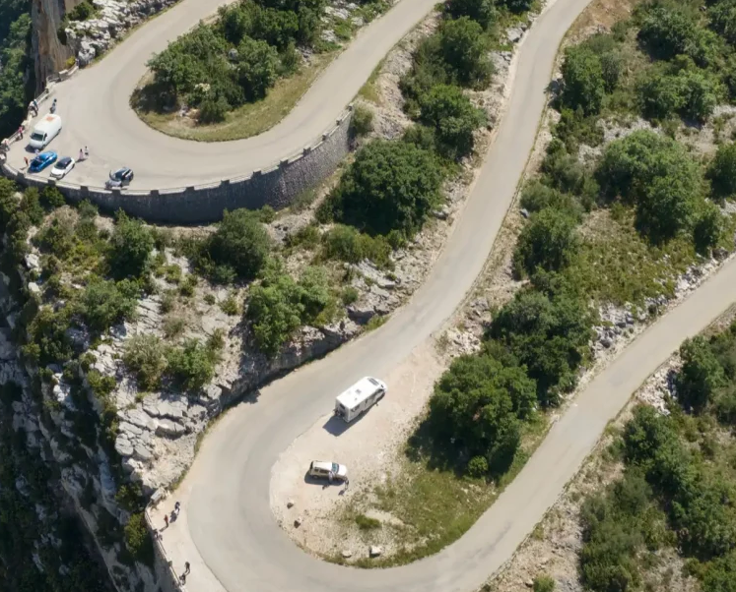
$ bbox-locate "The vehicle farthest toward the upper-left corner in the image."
[31,109,64,147]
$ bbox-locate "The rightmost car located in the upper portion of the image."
[103,160,134,185]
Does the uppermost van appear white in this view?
Yes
